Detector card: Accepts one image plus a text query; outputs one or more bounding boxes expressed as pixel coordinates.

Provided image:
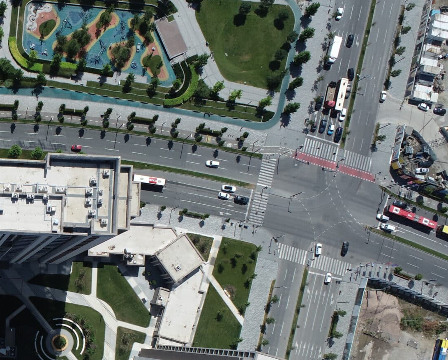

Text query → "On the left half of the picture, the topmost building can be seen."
[154,12,188,60]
